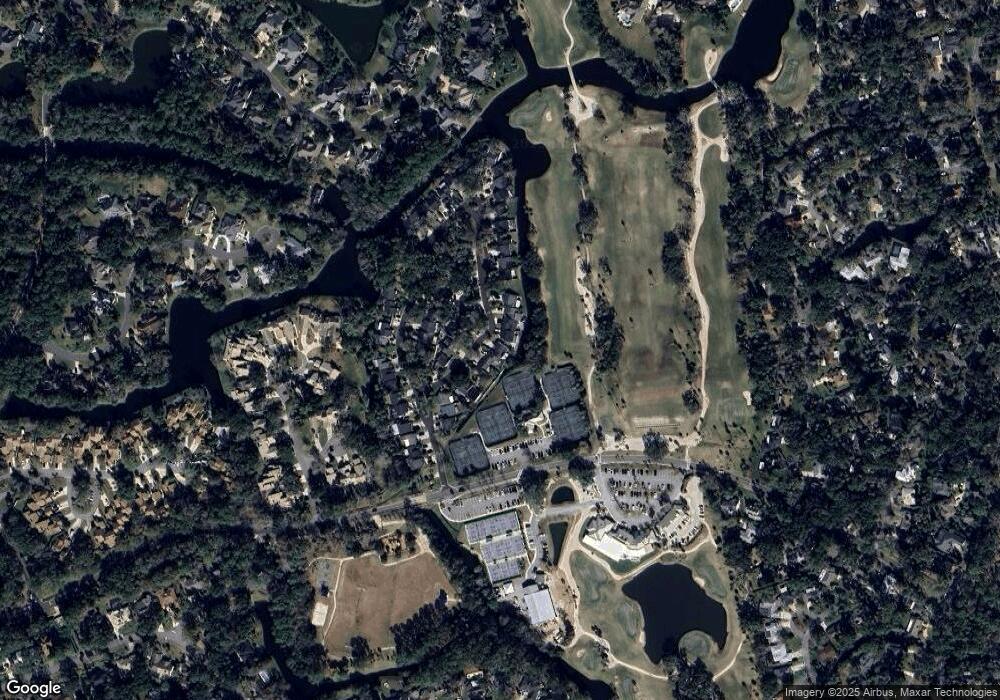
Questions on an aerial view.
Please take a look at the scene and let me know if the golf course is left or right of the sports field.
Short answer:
on its right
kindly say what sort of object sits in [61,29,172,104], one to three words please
pond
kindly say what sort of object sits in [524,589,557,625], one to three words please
shed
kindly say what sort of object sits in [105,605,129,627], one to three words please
house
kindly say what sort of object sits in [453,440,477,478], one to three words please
tennis court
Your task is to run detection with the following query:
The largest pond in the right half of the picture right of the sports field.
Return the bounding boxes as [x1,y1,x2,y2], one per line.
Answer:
[623,564,727,664]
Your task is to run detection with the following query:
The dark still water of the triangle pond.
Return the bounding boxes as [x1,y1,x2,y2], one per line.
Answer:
[304,0,407,68]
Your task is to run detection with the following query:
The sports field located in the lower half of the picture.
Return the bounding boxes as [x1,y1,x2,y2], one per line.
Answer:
[325,555,457,658]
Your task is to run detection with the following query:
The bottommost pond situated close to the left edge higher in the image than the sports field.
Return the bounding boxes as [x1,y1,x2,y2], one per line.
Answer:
[0,238,377,420]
